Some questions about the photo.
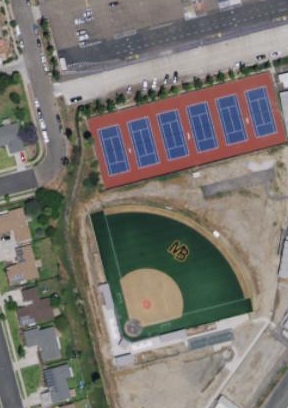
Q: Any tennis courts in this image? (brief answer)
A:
Yes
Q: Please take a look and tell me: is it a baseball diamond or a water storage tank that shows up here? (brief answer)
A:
baseball diamond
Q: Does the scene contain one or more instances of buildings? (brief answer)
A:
Yes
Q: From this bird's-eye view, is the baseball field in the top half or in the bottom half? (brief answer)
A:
bottom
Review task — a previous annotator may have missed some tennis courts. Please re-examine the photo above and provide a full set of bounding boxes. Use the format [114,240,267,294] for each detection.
[246,87,277,138]
[98,125,130,176]
[187,102,218,152]
[128,118,160,168]
[158,110,188,160]
[216,94,248,145]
